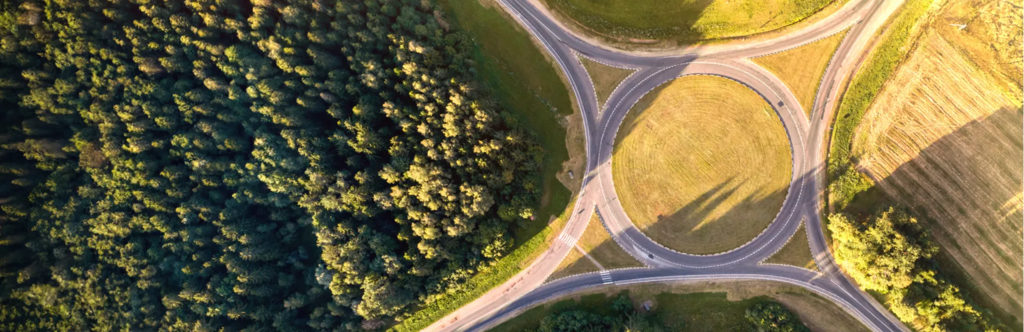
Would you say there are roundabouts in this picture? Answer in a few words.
Yes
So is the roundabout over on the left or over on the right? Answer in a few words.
right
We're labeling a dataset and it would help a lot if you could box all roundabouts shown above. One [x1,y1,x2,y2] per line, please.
[588,51,815,278]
